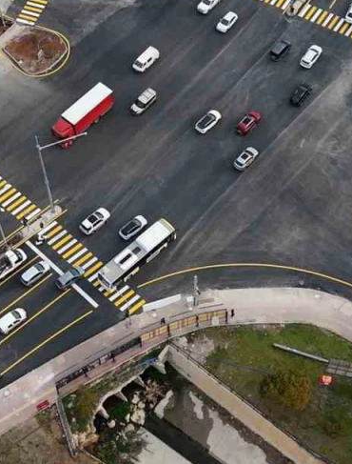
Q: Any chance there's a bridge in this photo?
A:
Yes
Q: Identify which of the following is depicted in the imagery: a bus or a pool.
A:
bus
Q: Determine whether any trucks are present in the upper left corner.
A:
Yes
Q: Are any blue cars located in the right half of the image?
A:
No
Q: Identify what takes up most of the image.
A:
paved ground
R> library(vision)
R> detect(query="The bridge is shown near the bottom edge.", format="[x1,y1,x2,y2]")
[63,341,175,454]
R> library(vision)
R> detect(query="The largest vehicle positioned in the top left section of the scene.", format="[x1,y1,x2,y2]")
[48,82,115,146]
